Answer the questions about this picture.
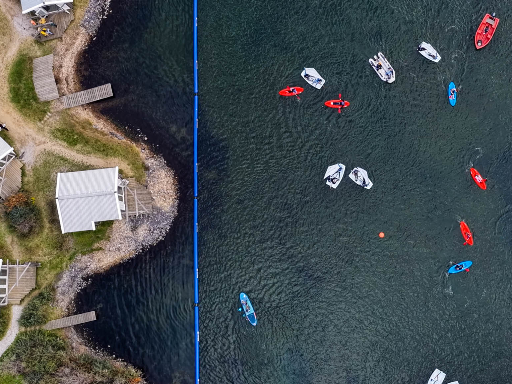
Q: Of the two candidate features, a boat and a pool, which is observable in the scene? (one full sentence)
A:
Of the two, only a boat appears.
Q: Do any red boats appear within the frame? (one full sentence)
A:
Yes, the picture does show a red boat.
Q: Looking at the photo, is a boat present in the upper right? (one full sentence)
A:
Yes, a boat appears in the upper right.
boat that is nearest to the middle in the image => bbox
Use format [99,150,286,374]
[324,164,345,188]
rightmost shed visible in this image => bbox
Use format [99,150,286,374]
[56,166,157,234]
